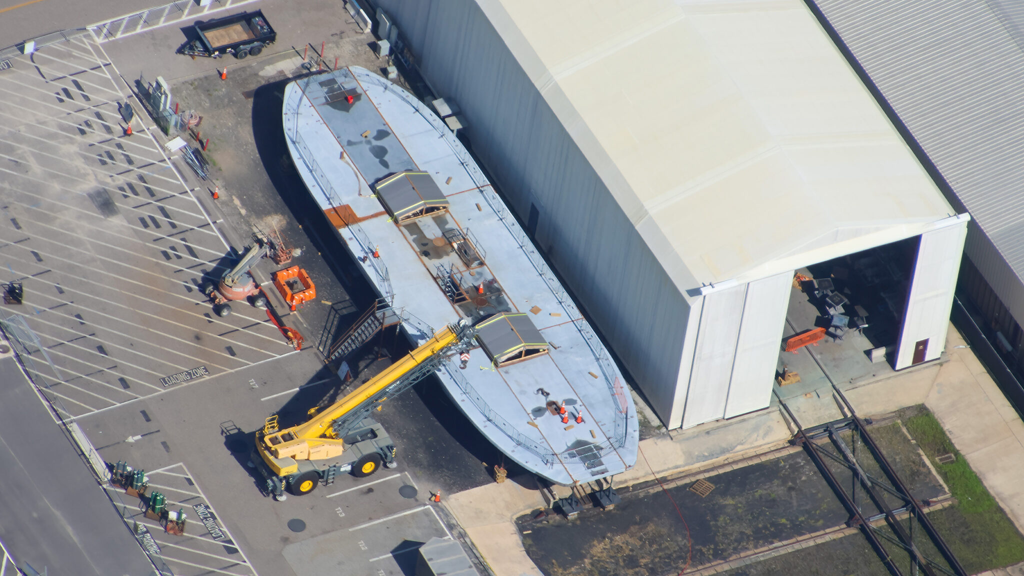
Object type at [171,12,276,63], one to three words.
trailer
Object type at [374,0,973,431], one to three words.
hangar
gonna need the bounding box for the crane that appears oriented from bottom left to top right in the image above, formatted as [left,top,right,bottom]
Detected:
[253,311,478,503]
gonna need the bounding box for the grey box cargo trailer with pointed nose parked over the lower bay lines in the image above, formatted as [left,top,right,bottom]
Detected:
[415,536,484,576]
